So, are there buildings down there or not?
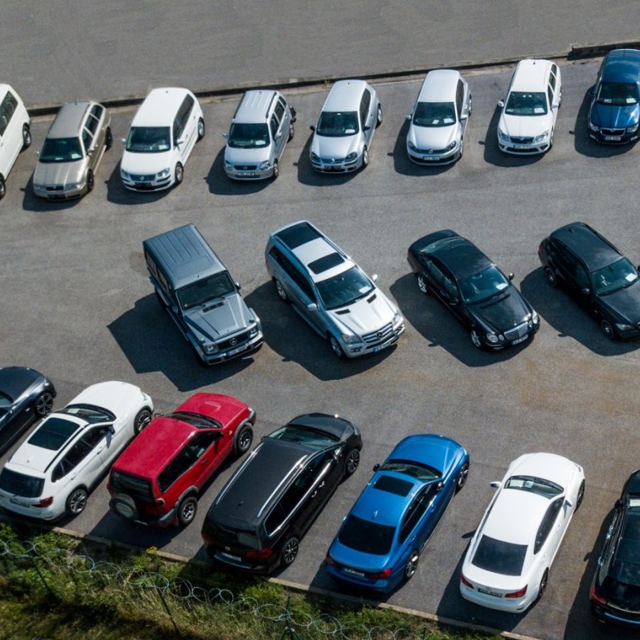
No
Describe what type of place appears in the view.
parking lot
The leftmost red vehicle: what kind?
car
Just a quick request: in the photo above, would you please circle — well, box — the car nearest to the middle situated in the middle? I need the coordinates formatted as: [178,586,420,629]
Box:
[261,221,403,362]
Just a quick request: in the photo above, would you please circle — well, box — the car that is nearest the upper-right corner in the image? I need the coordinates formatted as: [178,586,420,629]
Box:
[588,49,640,142]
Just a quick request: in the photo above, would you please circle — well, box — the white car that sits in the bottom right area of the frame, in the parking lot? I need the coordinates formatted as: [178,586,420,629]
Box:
[460,451,590,614]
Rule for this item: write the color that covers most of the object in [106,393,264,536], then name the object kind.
red car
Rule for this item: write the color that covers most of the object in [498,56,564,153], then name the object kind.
white car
